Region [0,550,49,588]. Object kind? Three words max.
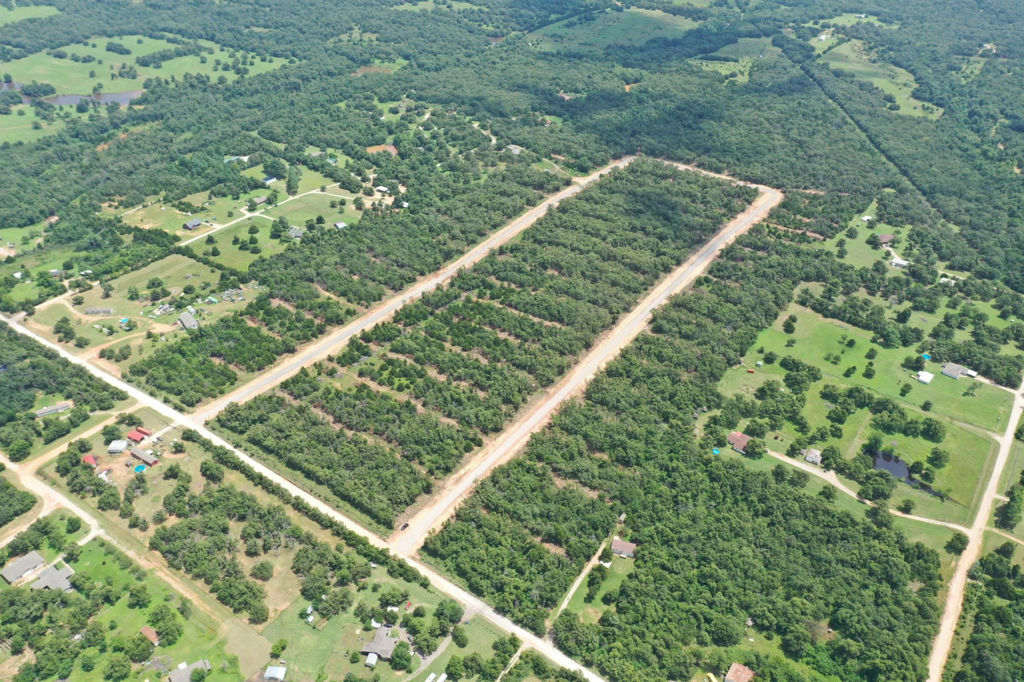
building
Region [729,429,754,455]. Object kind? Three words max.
house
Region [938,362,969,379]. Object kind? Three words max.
house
